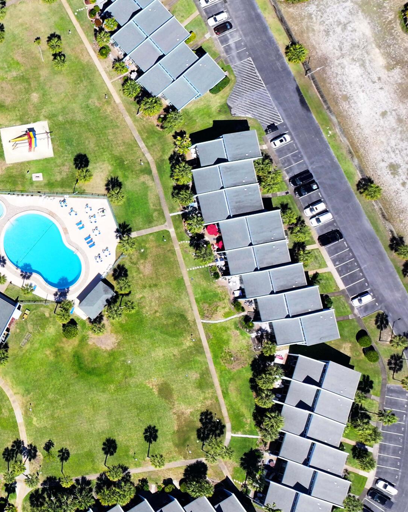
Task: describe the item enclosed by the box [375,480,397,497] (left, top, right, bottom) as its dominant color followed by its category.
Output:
white car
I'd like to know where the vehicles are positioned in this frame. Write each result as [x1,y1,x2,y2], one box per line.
[290,172,312,187]
[213,21,232,36]
[207,11,228,26]
[375,480,397,497]
[317,230,343,246]
[368,489,393,509]
[350,292,372,307]
[271,134,291,149]
[200,0,216,8]
[311,211,332,227]
[295,182,320,197]
[303,202,325,217]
